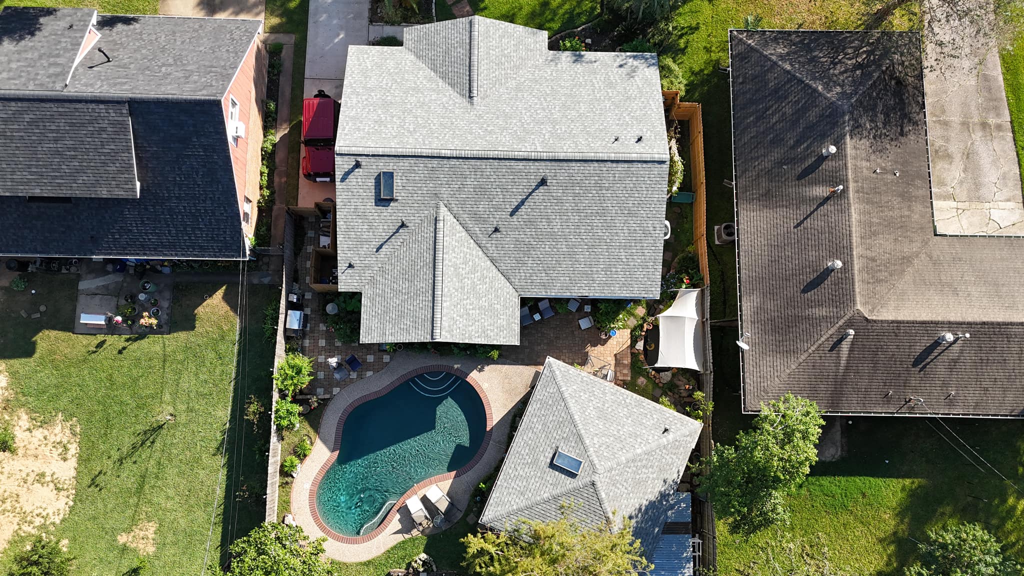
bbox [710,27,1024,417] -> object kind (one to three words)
house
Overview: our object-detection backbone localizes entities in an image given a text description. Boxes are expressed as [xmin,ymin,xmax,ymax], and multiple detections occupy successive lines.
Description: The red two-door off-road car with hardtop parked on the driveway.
[297,90,341,180]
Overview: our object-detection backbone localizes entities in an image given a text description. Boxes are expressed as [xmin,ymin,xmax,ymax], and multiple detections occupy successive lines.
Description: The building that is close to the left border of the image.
[0,10,271,261]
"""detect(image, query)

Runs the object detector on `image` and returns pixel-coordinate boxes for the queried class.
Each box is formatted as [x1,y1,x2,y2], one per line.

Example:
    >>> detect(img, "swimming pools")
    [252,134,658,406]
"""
[309,364,494,545]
